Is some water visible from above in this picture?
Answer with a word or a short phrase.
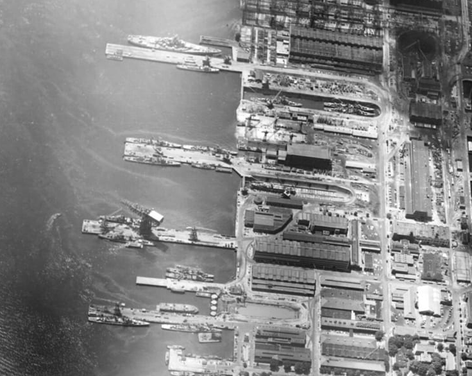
Yes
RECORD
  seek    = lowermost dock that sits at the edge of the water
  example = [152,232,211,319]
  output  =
[169,348,238,374]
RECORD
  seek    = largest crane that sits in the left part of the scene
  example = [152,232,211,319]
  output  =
[118,198,167,240]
